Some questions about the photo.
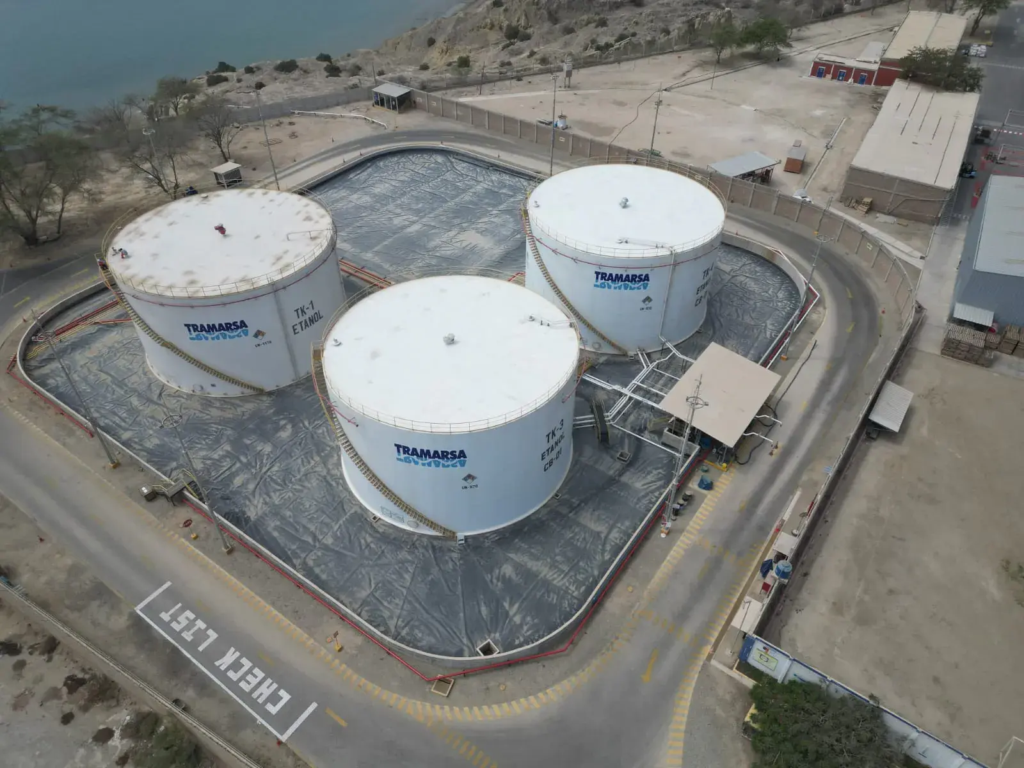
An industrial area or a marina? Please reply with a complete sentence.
What you see here is an industrial area.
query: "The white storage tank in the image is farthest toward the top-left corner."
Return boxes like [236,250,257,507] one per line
[92,181,350,397]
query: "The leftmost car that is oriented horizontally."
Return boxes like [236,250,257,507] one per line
[792,192,819,204]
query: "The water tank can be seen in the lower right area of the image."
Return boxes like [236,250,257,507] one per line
[763,561,791,601]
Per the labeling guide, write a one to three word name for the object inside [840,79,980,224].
warehouse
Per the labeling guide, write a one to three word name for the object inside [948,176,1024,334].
building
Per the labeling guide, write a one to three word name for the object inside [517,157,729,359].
storage tank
